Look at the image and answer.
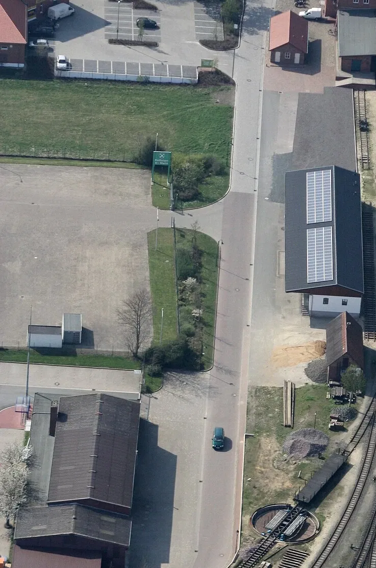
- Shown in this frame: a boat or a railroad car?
railroad car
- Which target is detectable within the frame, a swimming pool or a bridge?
bridge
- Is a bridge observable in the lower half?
Yes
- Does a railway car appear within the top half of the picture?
No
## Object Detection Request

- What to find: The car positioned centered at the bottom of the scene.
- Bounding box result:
[213,429,225,446]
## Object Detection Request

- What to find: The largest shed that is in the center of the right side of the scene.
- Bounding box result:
[284,165,365,313]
